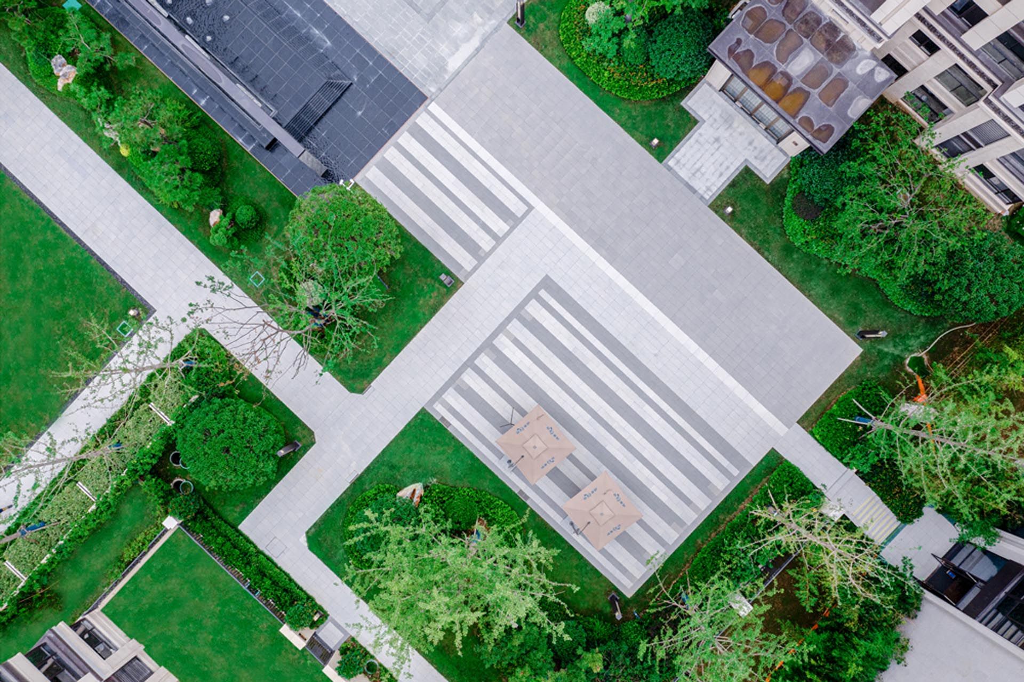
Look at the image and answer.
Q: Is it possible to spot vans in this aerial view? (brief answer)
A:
No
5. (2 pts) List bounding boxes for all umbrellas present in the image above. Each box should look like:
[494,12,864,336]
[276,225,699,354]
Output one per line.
[562,470,643,551]
[496,403,577,485]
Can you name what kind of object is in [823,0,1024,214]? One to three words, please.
building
